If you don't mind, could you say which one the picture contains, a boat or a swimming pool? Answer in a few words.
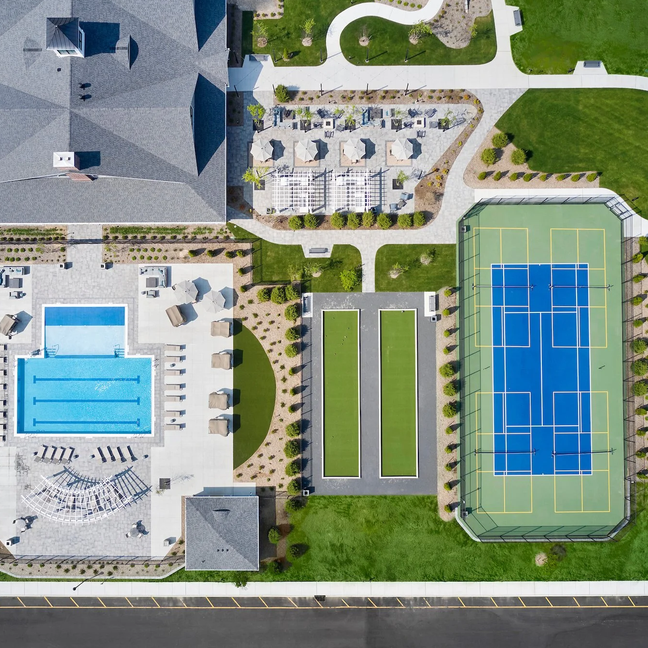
swimming pool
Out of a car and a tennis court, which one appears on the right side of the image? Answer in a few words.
tennis court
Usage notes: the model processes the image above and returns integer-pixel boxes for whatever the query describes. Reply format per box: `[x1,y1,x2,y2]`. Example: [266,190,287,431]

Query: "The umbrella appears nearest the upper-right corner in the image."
[390,137,414,159]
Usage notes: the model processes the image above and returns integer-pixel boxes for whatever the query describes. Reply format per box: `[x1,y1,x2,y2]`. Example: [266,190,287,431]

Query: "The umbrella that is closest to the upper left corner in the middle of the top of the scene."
[250,138,274,161]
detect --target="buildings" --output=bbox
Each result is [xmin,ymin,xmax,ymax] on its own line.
[185,494,259,571]
[0,0,233,225]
